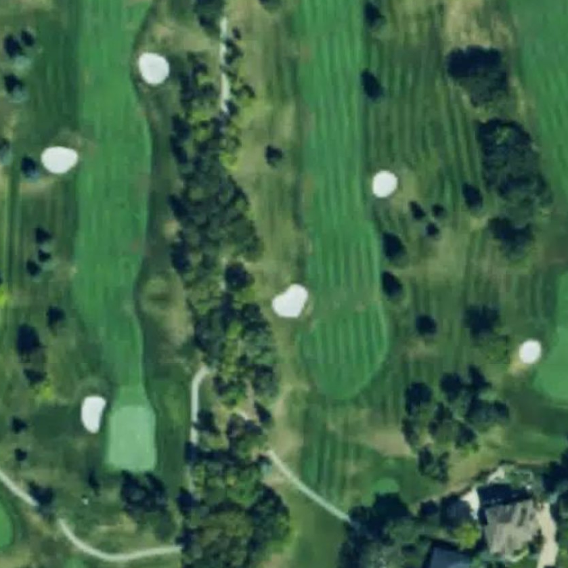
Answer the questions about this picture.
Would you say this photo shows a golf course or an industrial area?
golf course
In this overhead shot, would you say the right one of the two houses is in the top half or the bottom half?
bottom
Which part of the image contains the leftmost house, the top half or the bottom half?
bottom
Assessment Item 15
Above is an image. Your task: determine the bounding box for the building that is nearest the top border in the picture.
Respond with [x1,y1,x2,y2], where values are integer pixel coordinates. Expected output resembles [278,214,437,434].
[483,505,542,556]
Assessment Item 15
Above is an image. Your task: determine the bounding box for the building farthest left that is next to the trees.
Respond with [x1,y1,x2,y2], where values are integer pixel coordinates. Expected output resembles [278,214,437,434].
[435,546,482,568]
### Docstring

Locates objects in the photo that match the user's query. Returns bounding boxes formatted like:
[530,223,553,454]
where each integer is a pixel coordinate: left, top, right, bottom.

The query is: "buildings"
[483,505,542,556]
[435,546,482,568]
